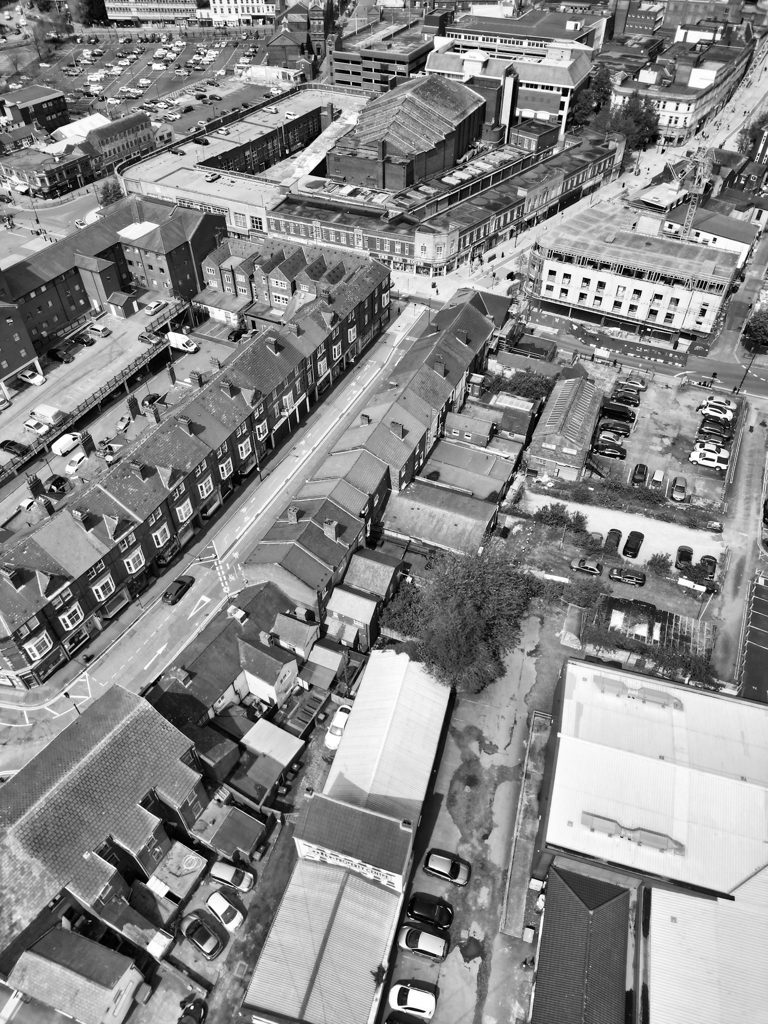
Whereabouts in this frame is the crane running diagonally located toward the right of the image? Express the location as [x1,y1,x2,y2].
[674,80,768,240]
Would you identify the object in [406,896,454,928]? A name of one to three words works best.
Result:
car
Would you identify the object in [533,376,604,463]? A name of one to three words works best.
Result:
building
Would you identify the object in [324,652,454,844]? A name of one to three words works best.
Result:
shed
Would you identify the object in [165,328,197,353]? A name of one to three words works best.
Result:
vehicle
